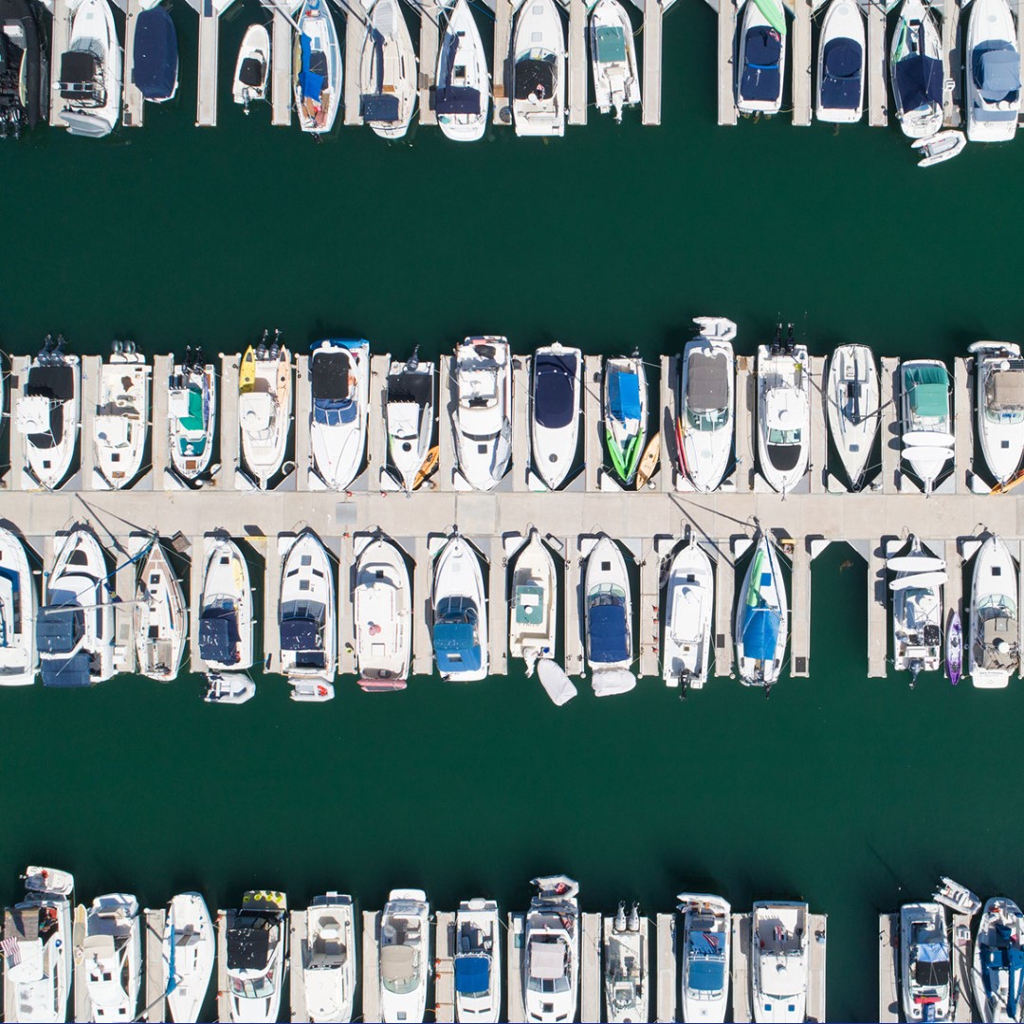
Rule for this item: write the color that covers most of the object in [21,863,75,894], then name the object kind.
white boat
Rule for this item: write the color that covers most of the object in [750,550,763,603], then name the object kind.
green boat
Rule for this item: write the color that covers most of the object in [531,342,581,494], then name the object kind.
white boat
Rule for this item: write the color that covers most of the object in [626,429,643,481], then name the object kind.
green boat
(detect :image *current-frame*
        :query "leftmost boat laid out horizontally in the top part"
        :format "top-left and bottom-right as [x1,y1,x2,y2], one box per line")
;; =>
[61,112,116,139]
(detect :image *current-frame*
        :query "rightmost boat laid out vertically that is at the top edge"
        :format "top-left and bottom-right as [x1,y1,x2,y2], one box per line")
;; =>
[964,0,1023,143]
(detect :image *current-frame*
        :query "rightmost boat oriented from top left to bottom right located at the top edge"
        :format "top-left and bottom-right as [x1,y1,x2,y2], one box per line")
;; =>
[754,0,783,35]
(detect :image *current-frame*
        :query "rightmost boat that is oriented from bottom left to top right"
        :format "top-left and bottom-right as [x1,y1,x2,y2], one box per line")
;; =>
[991,471,1024,495]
